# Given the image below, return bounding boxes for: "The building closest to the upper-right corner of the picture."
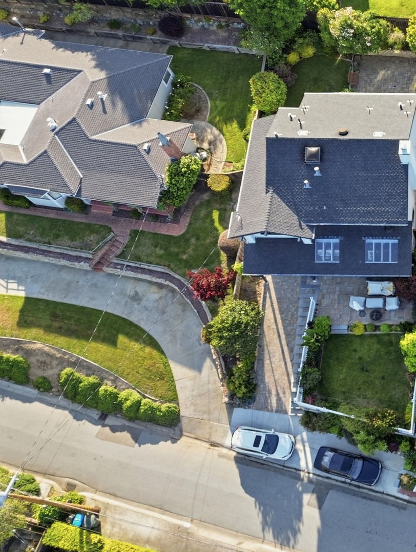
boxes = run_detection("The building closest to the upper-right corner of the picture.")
[226,92,416,288]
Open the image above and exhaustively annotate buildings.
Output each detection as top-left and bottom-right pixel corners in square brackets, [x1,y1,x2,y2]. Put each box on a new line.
[0,20,197,217]
[226,92,416,288]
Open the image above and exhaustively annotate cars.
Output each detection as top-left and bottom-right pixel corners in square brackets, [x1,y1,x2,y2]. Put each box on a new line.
[314,447,384,490]
[228,425,298,465]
